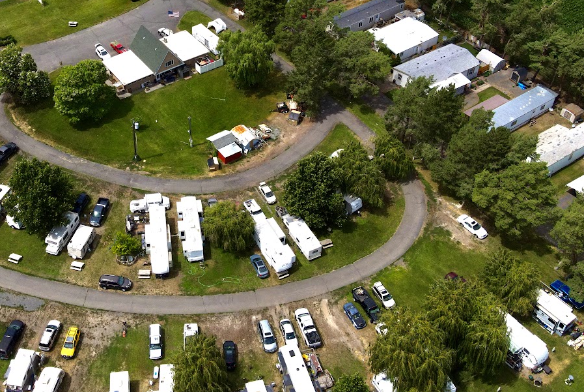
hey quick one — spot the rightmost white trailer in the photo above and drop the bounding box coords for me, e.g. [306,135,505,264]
[528,292,577,339]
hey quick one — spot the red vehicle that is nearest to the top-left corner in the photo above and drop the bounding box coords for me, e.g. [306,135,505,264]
[107,42,130,56]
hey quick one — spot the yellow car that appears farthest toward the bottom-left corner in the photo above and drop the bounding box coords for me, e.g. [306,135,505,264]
[62,326,80,357]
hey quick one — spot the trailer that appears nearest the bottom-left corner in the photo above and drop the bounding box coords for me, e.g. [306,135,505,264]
[5,350,38,392]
